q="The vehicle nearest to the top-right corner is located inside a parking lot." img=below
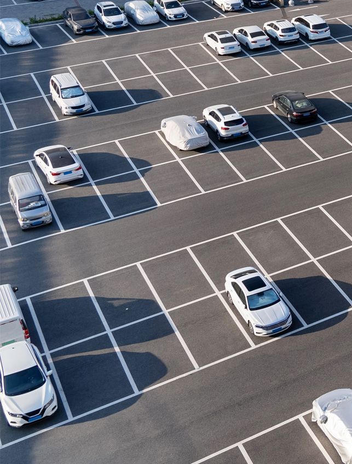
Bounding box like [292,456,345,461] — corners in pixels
[291,14,329,42]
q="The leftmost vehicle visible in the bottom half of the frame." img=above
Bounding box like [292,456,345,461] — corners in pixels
[0,287,26,351]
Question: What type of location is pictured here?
parking lot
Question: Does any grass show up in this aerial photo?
No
